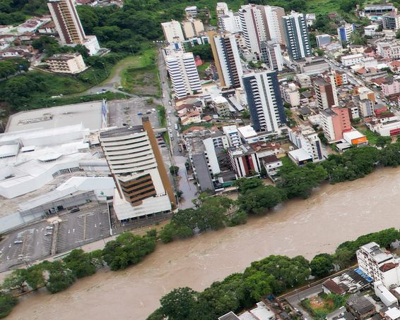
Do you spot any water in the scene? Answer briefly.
Yes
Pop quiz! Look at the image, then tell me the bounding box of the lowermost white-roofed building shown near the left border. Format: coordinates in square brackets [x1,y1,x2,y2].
[0,97,118,238]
